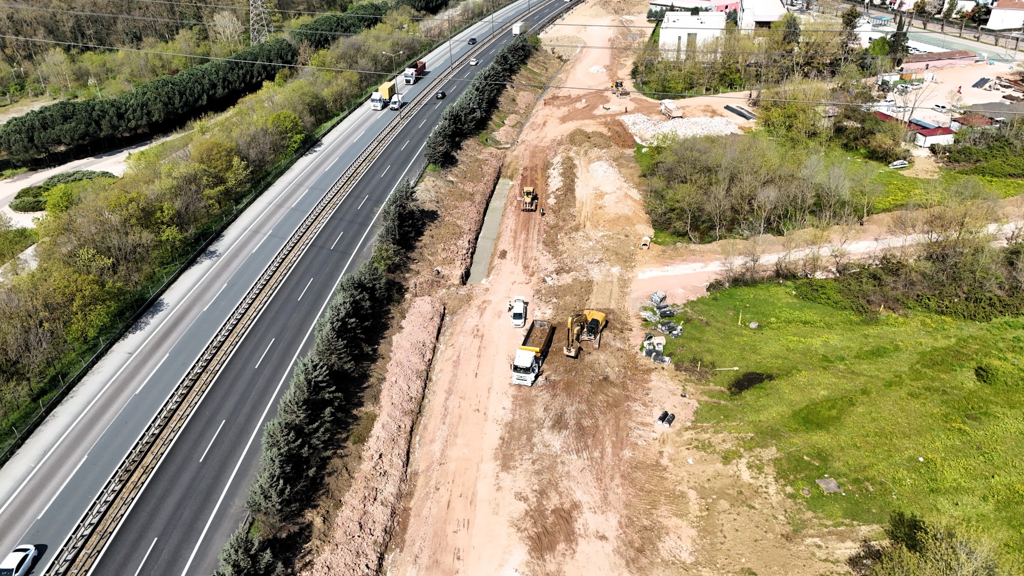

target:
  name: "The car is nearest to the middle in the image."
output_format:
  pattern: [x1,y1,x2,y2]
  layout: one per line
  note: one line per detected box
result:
[512,297,526,325]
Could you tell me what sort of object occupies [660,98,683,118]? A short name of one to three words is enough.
vehicle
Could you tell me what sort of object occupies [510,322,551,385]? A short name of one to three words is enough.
truck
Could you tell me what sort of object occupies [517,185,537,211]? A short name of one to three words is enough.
work vehicle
